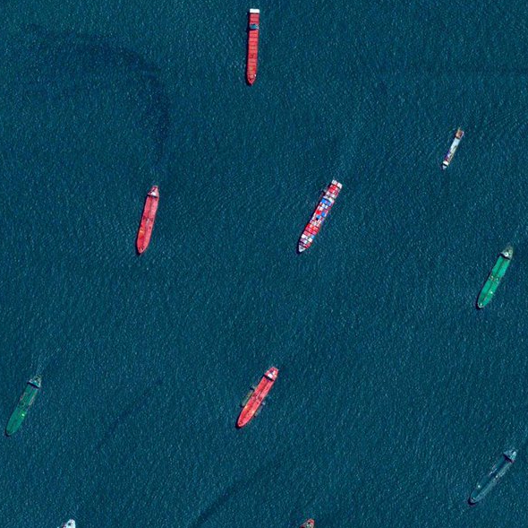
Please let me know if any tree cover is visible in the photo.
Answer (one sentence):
No, tree cover can't be seen anywhere here.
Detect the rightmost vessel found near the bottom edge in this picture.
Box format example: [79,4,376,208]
[469,450,516,502]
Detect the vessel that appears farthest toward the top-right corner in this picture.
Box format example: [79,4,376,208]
[442,127,464,169]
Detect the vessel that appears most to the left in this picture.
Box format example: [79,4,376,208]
[7,375,41,435]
